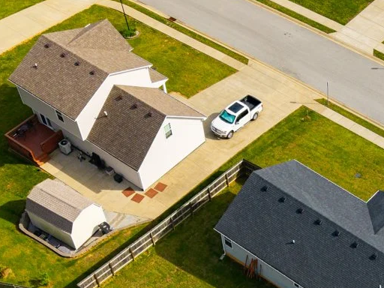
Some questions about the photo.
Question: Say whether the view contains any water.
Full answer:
No, the picture contains no water.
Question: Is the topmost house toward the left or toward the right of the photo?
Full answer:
You can find the topmost house on the left side of the picture.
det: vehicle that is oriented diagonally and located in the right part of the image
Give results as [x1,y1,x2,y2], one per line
[208,96,266,141]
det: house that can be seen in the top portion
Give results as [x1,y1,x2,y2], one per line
[7,19,209,194]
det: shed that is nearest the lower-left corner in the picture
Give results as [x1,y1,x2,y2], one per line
[24,179,106,250]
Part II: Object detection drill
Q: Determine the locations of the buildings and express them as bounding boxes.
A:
[7,19,209,194]
[24,179,106,250]
[214,161,384,288]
